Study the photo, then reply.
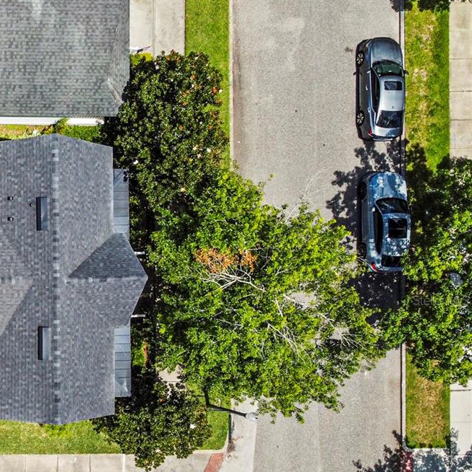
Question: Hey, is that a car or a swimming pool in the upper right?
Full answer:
The one visible in the upper right is a car.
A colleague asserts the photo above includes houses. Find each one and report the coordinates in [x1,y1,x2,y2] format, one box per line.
[0,0,130,125]
[0,133,148,425]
